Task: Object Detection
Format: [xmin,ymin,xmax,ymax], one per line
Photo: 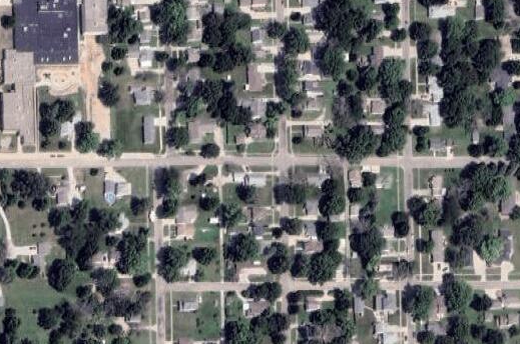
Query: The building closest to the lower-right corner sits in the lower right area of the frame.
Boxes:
[497,314,520,330]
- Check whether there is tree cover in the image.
Yes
